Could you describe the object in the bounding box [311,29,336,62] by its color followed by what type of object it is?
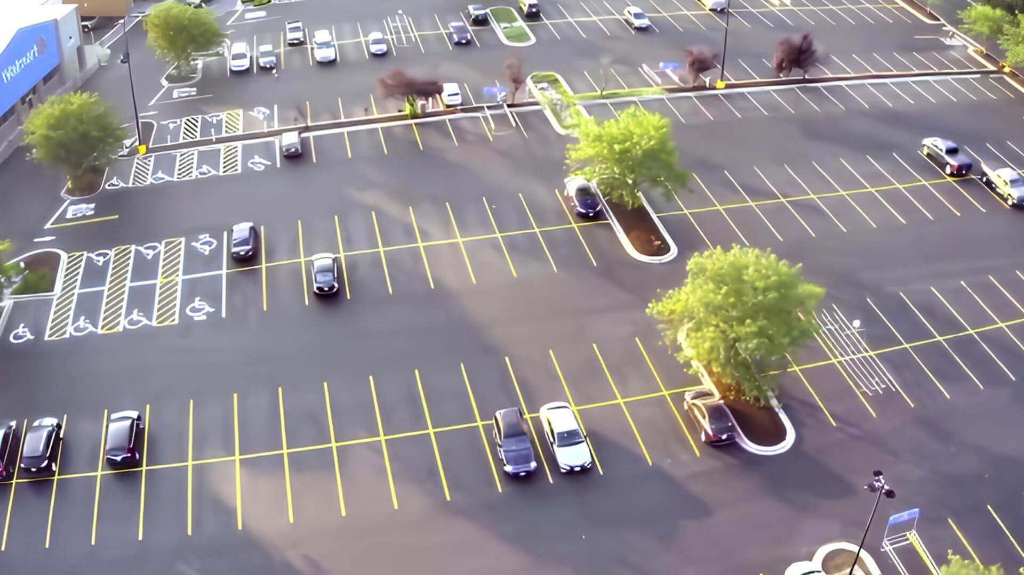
white truck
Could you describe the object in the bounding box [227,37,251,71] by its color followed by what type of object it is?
white car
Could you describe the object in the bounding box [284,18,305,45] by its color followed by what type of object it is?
white truck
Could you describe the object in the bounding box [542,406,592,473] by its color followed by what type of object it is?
white car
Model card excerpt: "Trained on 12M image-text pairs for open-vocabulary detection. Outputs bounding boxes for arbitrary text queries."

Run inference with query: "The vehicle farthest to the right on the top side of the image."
[973,162,1024,206]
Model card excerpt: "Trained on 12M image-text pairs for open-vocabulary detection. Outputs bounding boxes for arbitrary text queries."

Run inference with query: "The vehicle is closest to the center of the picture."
[563,177,599,215]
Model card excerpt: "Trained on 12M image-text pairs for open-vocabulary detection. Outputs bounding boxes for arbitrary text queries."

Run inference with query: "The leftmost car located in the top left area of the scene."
[79,23,94,39]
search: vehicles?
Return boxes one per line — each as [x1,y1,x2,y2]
[310,250,339,293]
[255,43,276,68]
[366,32,386,55]
[0,424,15,480]
[684,389,734,444]
[770,0,789,5]
[447,20,470,44]
[700,0,724,10]
[277,125,302,156]
[284,18,305,45]
[623,6,650,29]
[79,23,94,39]
[973,162,1024,206]
[489,406,535,475]
[227,37,251,71]
[20,413,62,472]
[104,408,141,466]
[920,136,972,176]
[311,29,336,62]
[563,177,599,215]
[542,406,592,473]
[227,221,256,260]
[438,74,462,106]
